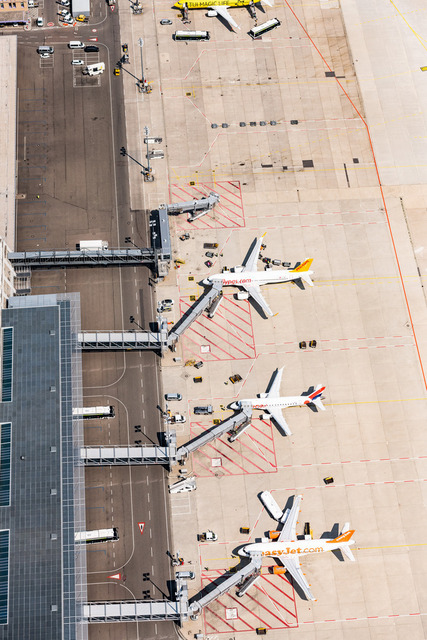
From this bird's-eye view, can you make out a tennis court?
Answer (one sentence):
No, I find no tennis court anywhere in the image.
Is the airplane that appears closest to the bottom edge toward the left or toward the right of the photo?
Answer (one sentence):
The airplane that appears closest to the bottom edge is on the right side of the image.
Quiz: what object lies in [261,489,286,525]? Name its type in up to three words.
truck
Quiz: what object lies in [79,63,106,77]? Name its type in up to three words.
vehicle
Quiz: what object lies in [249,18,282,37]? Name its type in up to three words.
vehicle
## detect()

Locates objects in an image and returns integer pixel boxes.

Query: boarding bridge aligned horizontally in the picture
[159,192,223,227]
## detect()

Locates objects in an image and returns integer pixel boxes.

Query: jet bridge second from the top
[169,281,225,352]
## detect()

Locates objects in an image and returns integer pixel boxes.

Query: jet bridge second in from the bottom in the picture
[177,401,257,466]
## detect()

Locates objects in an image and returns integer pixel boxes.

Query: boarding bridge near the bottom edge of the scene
[188,549,265,621]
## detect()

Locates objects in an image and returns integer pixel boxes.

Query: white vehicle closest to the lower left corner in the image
[74,528,119,545]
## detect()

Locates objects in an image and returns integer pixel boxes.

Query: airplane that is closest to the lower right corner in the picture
[241,492,356,599]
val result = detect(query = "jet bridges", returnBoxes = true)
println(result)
[188,549,265,621]
[169,281,225,352]
[159,192,223,227]
[177,401,257,466]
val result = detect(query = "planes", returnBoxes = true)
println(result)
[231,364,324,435]
[241,492,356,599]
[174,0,272,28]
[207,230,316,316]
